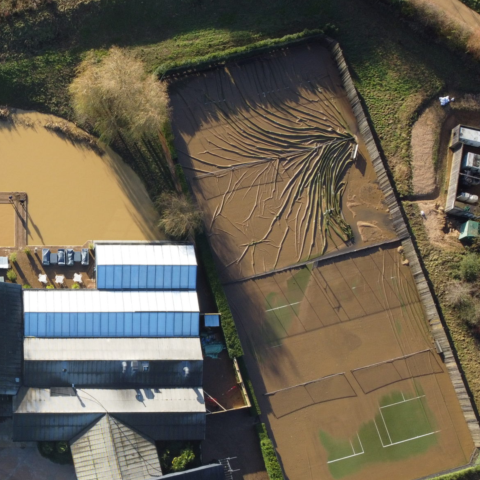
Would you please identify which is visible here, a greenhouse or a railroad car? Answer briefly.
greenhouse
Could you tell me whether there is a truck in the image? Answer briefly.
No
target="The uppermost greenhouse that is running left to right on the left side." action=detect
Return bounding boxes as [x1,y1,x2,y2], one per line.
[93,242,199,290]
